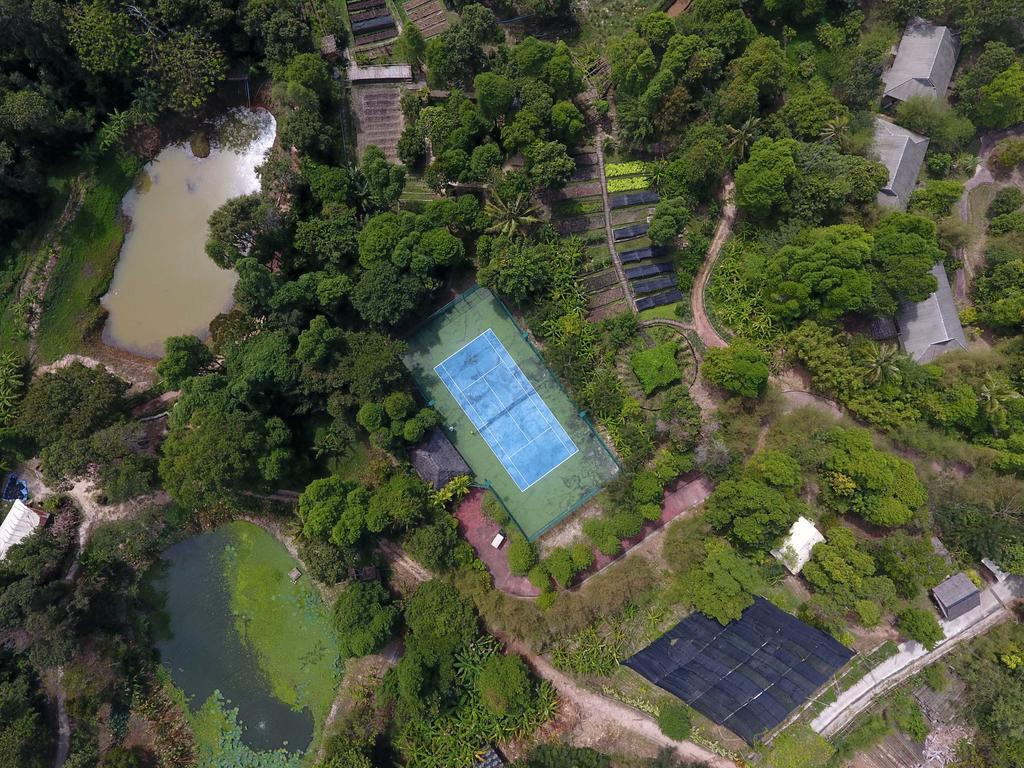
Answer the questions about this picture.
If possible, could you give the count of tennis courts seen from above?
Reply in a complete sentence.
Just 1 tennis court appears in this view.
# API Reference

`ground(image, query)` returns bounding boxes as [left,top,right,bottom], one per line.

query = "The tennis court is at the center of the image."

[396,286,620,541]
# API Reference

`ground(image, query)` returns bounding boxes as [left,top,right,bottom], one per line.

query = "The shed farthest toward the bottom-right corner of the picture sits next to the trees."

[932,573,980,621]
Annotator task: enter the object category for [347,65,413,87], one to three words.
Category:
shed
